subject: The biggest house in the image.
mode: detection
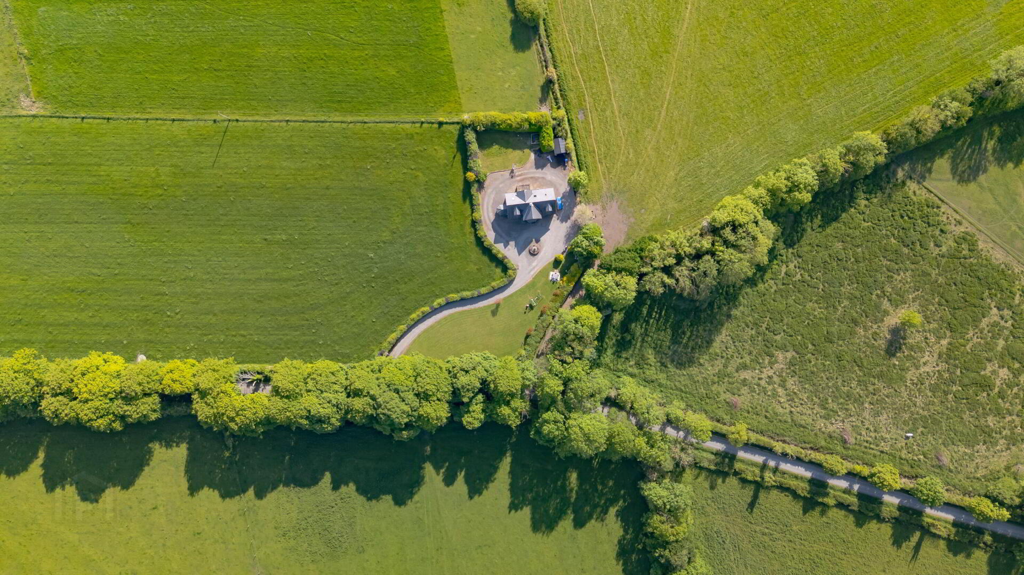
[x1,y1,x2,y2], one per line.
[496,187,559,223]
